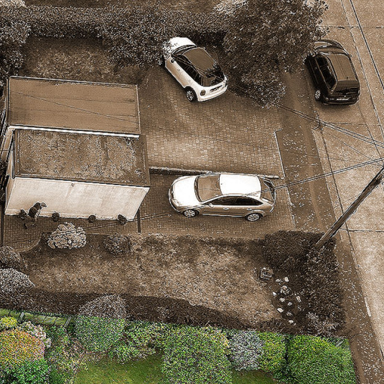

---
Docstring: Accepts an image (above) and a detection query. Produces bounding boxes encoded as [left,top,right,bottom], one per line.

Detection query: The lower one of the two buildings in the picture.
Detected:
[2,121,150,221]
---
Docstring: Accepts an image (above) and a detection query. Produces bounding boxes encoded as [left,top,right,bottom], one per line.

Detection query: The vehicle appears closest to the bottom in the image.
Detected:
[168,170,280,227]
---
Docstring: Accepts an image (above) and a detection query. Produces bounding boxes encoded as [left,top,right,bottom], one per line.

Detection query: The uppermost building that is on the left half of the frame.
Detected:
[0,74,141,154]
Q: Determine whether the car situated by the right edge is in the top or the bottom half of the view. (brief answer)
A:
top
